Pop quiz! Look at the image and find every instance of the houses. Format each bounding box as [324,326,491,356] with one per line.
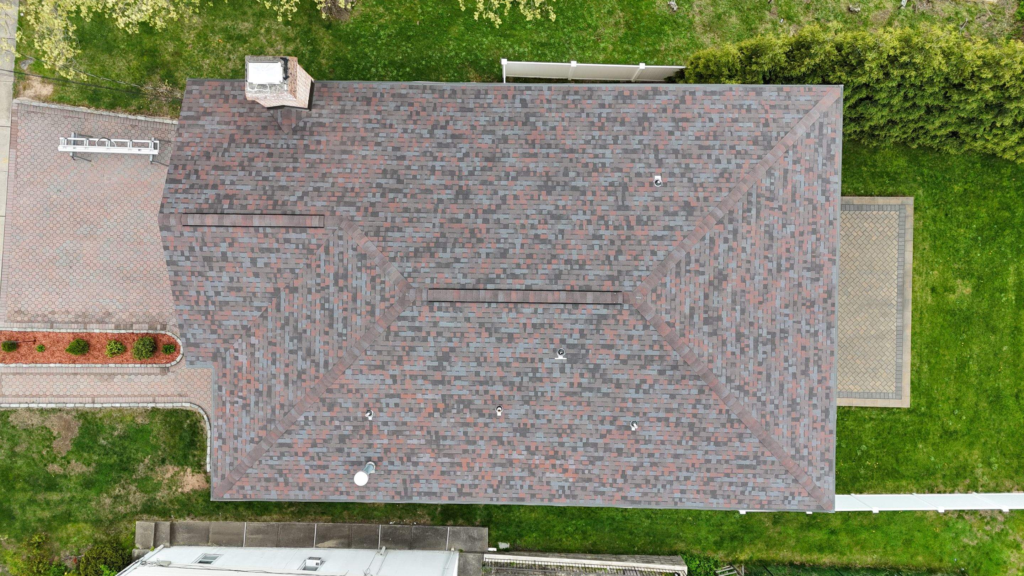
[160,55,843,511]
[118,545,459,576]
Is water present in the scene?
No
